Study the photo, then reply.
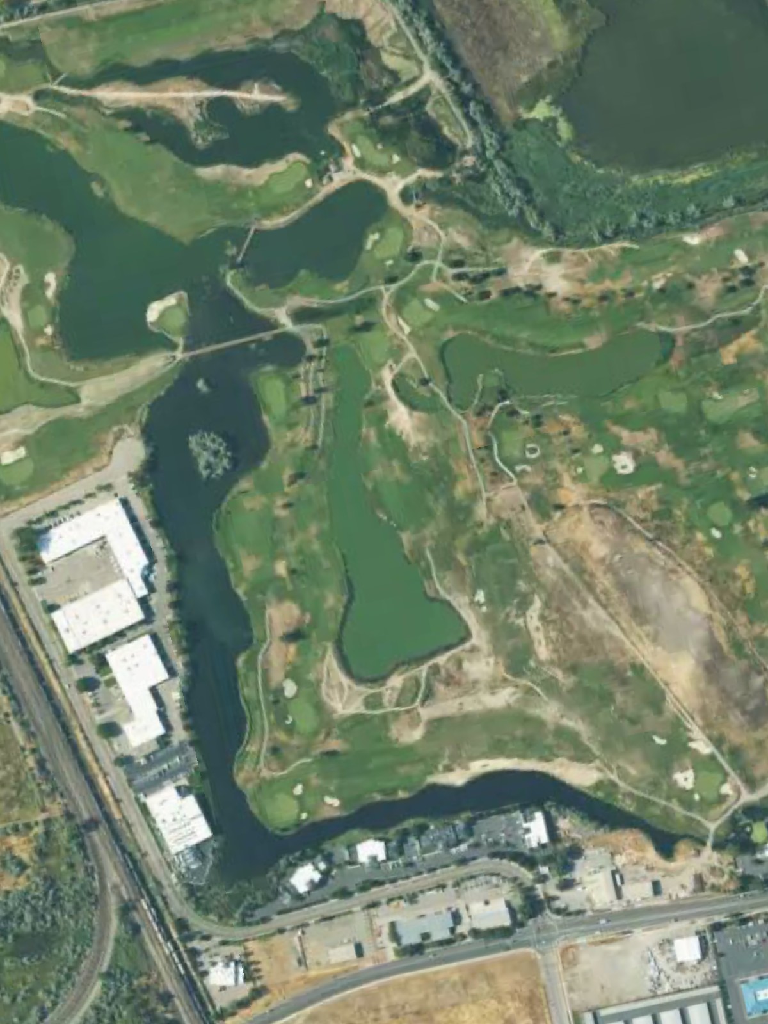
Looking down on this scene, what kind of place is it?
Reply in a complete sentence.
This looks like a golf course.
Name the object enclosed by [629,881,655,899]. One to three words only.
shed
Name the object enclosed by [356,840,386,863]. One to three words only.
building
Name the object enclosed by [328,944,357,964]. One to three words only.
shed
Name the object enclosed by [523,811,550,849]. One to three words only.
building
